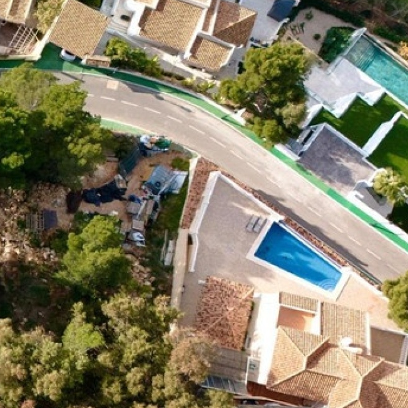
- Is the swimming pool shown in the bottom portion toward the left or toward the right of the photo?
right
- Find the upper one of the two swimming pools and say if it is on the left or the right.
right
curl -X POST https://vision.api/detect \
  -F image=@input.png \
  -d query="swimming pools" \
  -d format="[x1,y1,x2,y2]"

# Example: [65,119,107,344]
[344,36,408,116]
[247,217,348,299]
